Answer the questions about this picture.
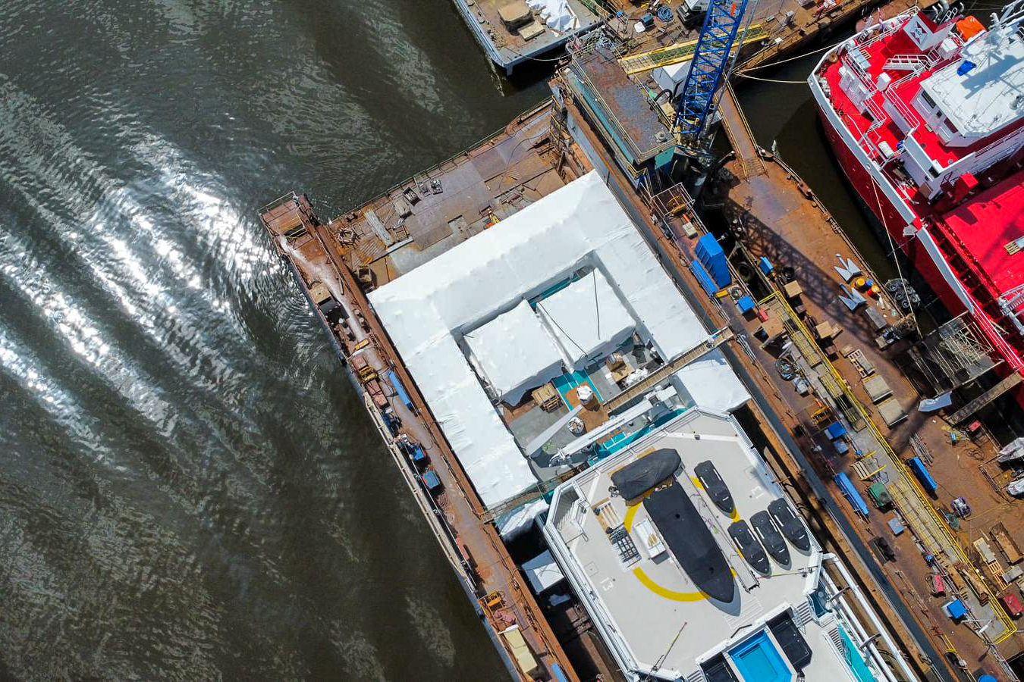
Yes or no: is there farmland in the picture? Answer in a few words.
No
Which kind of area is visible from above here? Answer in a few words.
port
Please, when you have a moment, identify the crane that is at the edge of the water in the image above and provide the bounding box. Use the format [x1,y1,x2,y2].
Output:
[645,0,754,184]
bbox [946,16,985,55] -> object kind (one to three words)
boat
